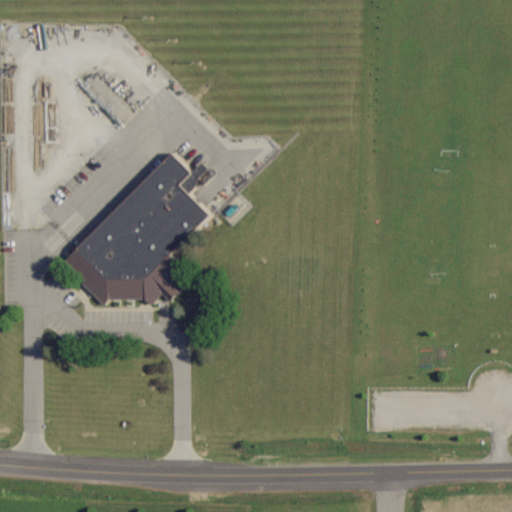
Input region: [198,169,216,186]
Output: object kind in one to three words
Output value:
vehicle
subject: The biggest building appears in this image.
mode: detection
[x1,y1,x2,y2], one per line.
[66,154,214,305]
